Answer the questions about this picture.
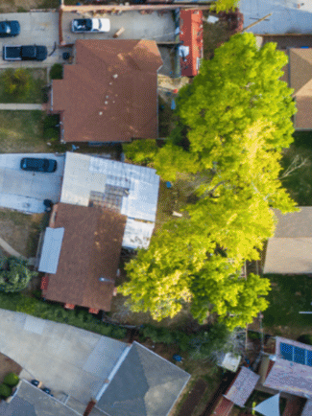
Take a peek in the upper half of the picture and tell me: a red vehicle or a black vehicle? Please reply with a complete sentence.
There is a black vehicle in the upper half of the picture.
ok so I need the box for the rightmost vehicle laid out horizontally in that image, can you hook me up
[70,14,113,34]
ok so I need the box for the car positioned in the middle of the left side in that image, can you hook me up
[19,155,58,173]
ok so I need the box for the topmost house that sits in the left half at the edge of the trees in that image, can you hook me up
[49,38,163,144]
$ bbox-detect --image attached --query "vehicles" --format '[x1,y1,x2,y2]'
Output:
[19,155,58,173]
[0,19,20,36]
[70,14,113,34]
[1,43,49,61]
